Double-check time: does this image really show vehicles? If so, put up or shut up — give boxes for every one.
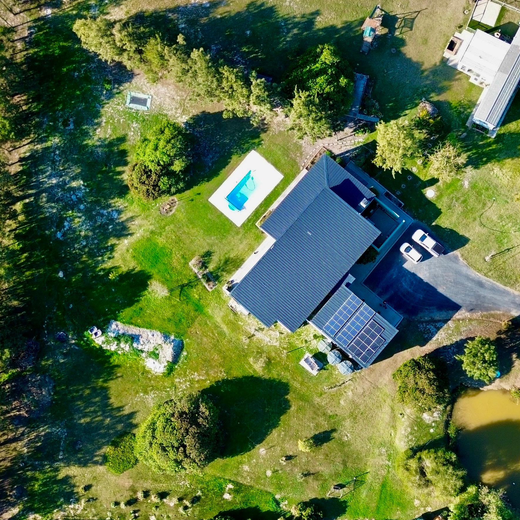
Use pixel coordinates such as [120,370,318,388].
[398,241,424,266]
[412,228,445,262]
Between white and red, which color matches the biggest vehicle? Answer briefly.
white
